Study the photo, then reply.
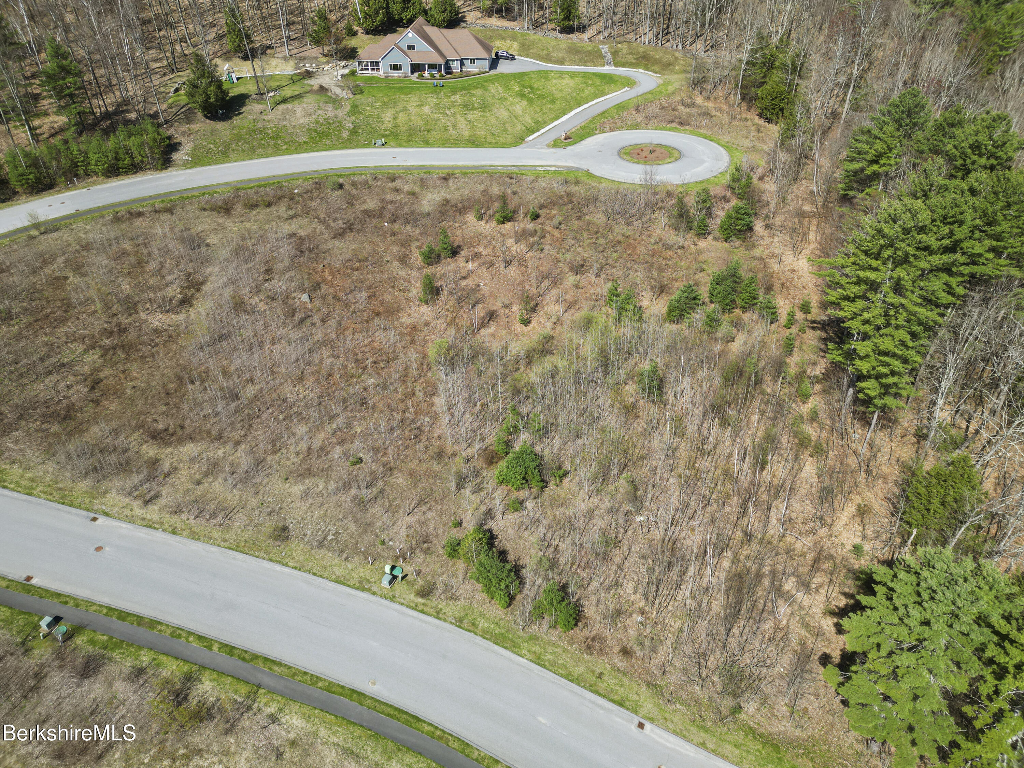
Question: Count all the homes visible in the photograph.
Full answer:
In total, there is 1 home in the scene.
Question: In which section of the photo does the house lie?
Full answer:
The house sits in the top section of the image.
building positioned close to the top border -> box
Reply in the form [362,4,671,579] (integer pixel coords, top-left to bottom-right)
[352,18,494,78]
